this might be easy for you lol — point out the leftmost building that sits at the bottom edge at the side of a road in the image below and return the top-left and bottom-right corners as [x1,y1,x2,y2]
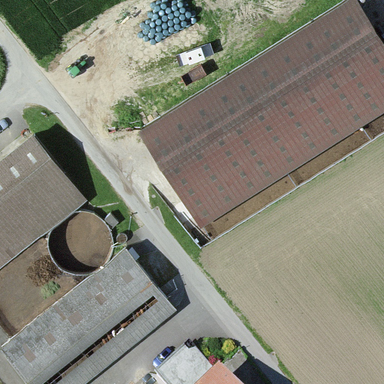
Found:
[2,247,176,384]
